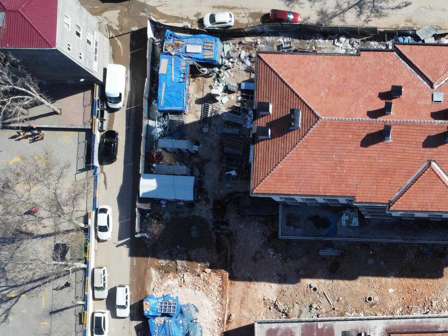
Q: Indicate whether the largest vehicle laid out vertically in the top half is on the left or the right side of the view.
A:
left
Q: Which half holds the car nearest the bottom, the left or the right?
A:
left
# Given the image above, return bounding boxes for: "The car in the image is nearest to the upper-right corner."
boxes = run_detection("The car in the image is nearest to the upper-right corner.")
[267,4,301,20]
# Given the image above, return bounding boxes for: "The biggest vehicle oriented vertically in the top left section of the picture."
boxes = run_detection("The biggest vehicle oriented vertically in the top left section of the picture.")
[102,60,125,108]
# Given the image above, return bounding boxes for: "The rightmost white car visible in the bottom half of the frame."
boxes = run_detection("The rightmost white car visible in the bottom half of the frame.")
[112,284,130,318]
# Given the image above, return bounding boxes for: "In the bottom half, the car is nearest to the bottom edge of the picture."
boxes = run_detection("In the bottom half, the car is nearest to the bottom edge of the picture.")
[89,310,109,336]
